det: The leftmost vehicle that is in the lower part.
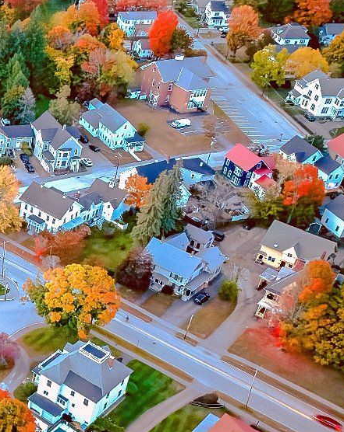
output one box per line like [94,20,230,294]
[193,290,212,304]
